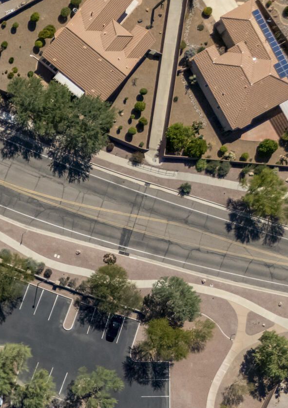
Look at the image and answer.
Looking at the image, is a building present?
Yes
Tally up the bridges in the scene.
0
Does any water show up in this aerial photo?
No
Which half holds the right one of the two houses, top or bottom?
top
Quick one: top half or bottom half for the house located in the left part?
top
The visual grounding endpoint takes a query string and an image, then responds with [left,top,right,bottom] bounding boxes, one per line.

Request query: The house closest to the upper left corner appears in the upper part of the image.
[39,0,156,99]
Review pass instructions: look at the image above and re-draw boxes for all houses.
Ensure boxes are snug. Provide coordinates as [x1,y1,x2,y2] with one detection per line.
[186,0,288,139]
[39,0,156,99]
